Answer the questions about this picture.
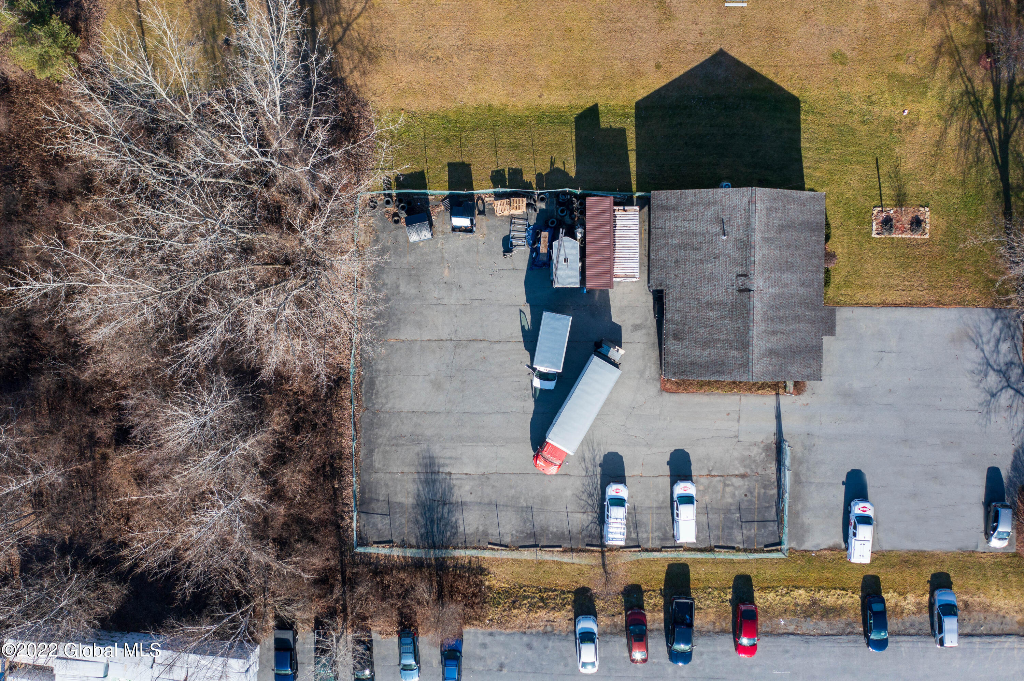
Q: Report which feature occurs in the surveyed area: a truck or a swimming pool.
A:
truck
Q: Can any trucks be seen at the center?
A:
Yes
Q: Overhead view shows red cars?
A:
Yes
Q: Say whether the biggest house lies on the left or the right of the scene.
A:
right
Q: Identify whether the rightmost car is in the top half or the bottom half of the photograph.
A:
bottom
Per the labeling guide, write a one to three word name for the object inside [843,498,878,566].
truck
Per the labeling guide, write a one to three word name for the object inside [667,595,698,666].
truck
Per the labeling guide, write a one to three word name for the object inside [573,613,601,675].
car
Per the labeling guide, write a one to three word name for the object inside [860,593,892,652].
car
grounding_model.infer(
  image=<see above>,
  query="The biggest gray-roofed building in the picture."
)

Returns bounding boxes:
[648,186,835,382]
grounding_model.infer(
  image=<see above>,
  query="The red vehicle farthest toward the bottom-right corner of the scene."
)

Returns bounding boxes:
[733,600,761,657]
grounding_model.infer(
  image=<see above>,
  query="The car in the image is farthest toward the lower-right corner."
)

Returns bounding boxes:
[927,586,961,649]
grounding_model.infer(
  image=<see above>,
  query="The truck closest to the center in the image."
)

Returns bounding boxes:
[525,311,572,393]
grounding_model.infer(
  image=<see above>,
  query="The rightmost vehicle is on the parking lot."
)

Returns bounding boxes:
[982,499,1015,549]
